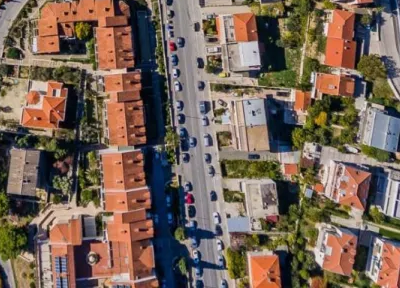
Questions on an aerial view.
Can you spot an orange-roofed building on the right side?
Yes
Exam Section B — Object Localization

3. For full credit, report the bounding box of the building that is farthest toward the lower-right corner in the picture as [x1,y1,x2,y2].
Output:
[359,236,400,288]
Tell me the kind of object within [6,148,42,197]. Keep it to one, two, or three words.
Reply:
house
